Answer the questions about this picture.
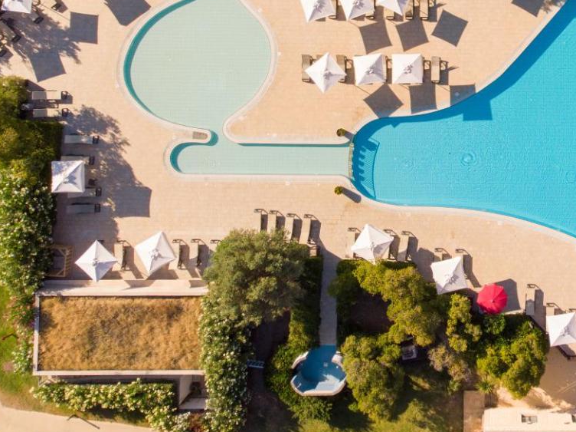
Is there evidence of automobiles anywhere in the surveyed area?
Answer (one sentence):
No, I find no automobile anywhere in the image.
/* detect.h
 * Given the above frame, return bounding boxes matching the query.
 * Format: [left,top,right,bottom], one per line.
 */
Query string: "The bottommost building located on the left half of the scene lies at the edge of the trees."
[33,281,215,374]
